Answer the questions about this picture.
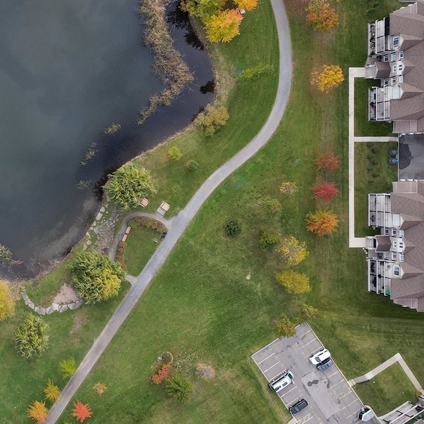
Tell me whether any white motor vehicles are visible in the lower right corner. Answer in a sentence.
Yes, a white motor vehicle can be seen in the lower right corner.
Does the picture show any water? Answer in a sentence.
Yes, there is water in the image.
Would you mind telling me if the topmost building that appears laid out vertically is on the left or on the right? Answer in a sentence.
You can find the topmost building that appears laid out vertically on the right side of the picture.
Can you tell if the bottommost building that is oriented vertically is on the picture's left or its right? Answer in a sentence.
You can find the bottommost building that is oriented vertically on the right side of the picture.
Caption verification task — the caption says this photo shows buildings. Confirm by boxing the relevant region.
[361,0,424,132]
[380,387,424,424]
[361,180,424,312]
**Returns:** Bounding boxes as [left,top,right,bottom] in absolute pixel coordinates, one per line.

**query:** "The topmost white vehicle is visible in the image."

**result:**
[308,348,331,365]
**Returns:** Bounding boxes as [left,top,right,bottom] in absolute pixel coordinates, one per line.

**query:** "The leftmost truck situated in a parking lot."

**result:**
[267,371,295,393]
